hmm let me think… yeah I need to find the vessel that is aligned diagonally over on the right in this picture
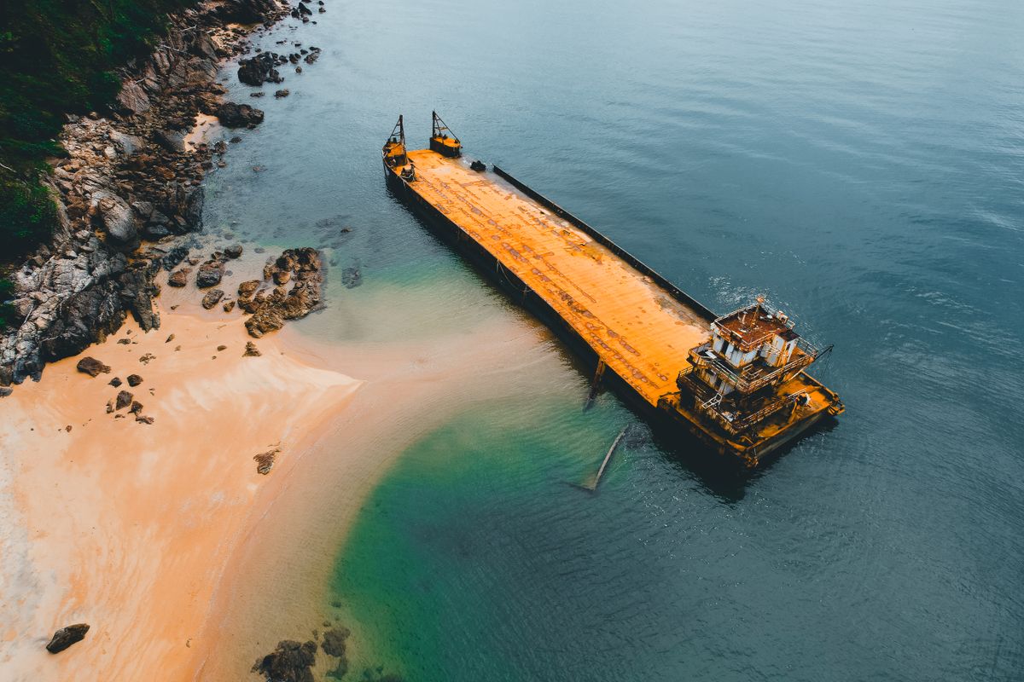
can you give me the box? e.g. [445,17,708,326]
[380,104,850,477]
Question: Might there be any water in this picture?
Yes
